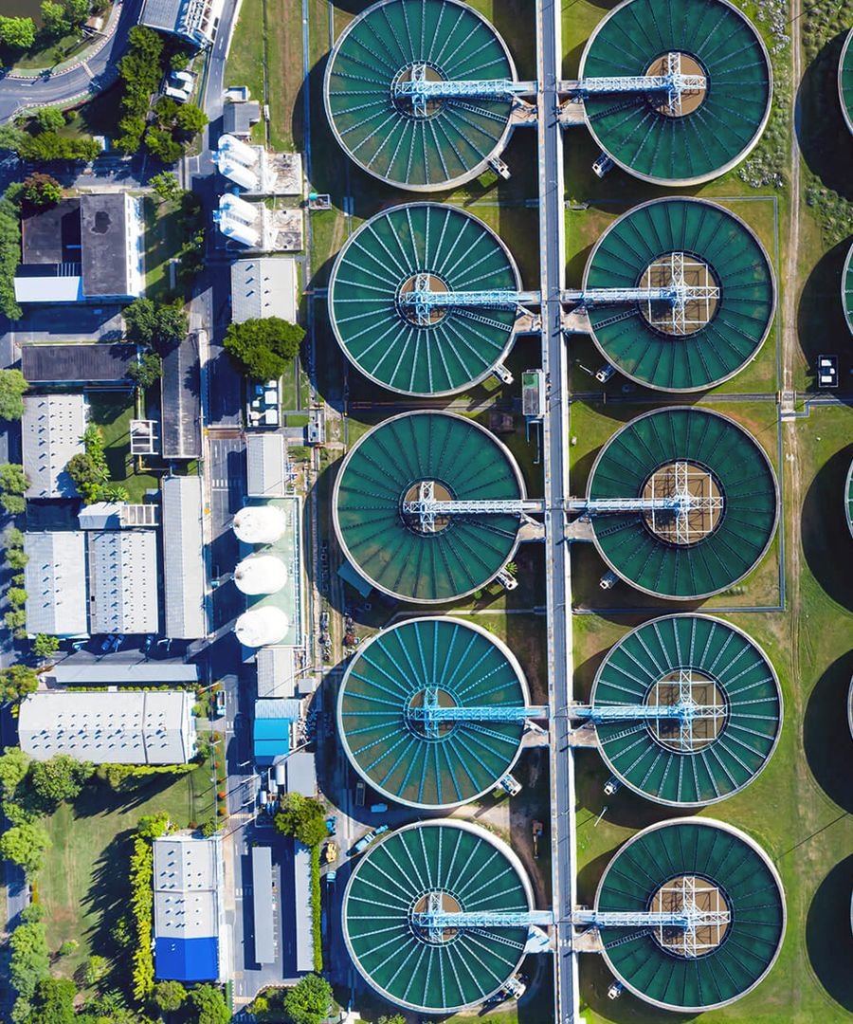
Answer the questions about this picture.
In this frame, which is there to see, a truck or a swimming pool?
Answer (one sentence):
The image shows a truck.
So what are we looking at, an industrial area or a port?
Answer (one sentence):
The area seen from above is an industrial area.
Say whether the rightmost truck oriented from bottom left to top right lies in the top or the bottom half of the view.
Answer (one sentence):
It is in the bottom half that the rightmost truck oriented from bottom left to top right appears.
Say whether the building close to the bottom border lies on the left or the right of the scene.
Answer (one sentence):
The building close to the bottom border appears in the left half of the scene.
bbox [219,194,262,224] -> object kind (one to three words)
silo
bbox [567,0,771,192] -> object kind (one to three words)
storage tank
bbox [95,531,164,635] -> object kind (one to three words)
building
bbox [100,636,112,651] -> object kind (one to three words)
vehicle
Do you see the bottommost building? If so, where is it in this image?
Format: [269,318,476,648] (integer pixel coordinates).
[154,834,227,982]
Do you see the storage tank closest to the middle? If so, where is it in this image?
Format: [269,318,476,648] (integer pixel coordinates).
[332,410,544,603]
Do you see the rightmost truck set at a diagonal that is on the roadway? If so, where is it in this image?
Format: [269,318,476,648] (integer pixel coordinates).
[352,821,388,854]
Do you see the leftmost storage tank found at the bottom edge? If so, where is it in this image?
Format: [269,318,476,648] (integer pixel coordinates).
[341,814,551,1013]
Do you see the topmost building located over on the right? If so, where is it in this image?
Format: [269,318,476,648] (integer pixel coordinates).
[522,369,546,458]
